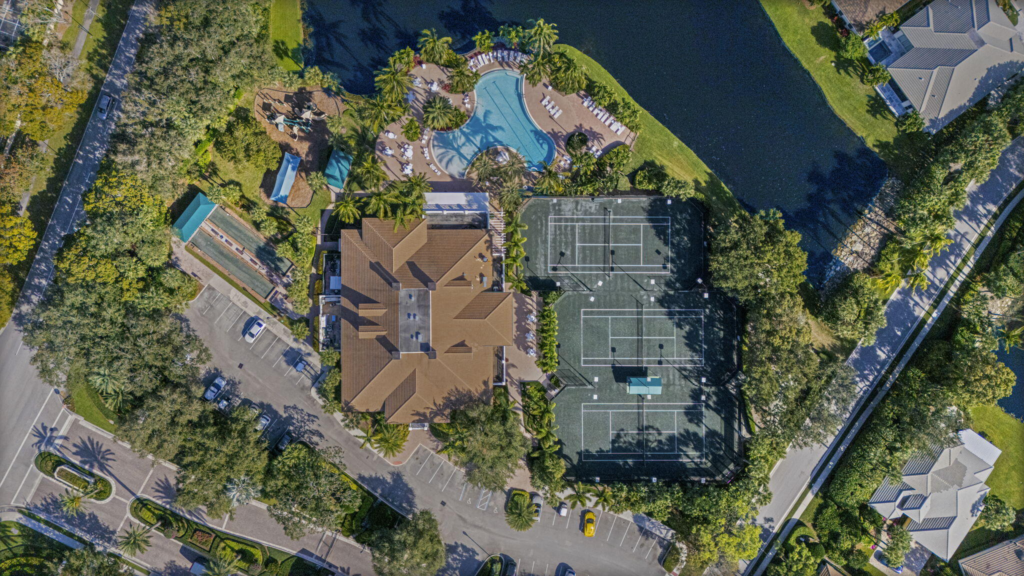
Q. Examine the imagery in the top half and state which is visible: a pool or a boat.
pool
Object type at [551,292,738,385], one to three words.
tennis court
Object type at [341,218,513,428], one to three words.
building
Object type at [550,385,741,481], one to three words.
tennis court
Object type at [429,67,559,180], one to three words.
swimming pool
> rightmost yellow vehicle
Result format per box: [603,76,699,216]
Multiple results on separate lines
[584,511,596,537]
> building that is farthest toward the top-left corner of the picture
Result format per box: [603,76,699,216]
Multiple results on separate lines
[175,192,219,243]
